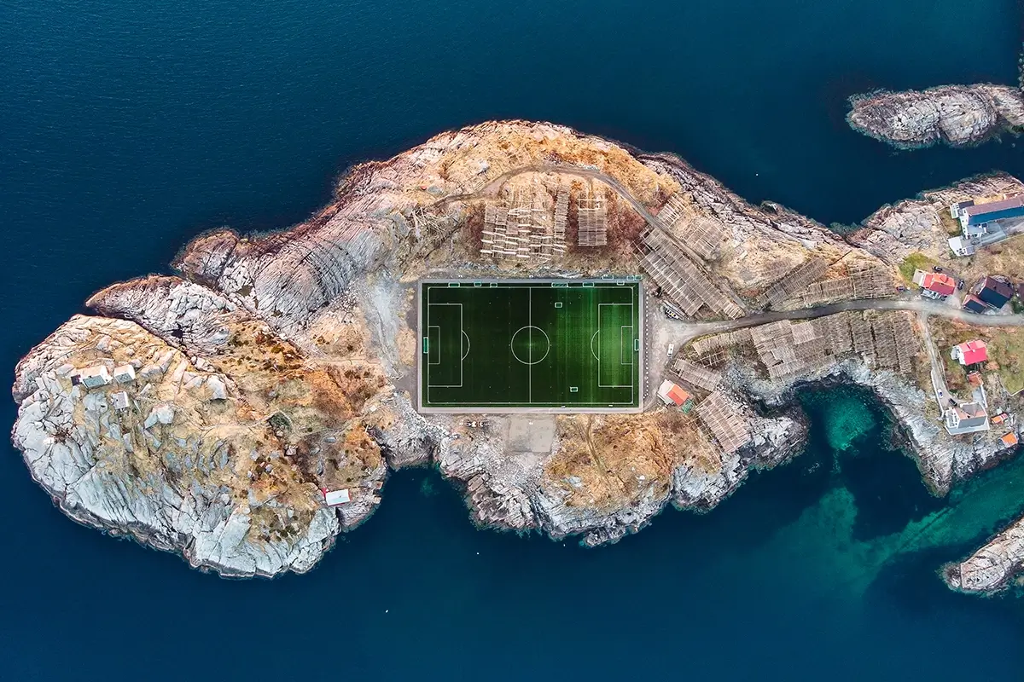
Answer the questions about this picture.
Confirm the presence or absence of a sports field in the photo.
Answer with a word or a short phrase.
Yes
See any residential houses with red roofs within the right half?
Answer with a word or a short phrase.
Yes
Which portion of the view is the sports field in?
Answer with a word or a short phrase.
center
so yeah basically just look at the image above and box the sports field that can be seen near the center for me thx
[418,278,643,414]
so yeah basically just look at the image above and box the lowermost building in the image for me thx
[322,487,352,506]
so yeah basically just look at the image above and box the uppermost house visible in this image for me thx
[944,189,1024,242]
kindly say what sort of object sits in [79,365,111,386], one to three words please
building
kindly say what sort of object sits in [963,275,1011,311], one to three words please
house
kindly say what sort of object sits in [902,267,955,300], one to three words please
house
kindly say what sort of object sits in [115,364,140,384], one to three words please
building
